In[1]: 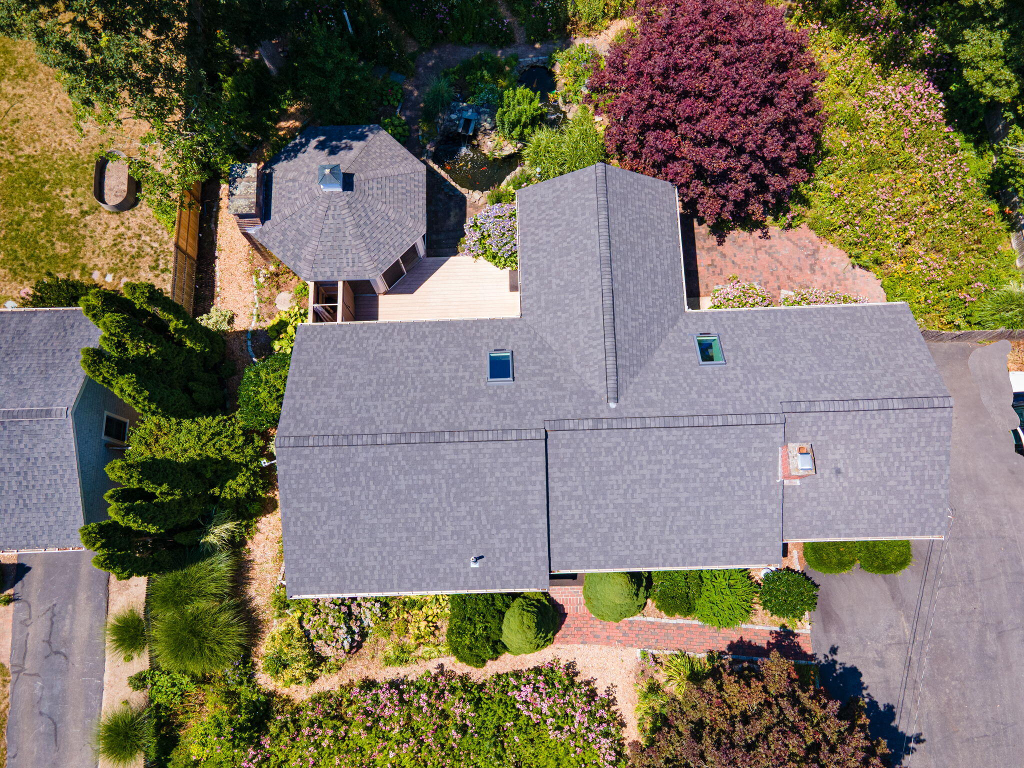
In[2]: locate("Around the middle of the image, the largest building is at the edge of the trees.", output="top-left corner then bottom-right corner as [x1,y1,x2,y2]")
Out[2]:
[259,165,953,601]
